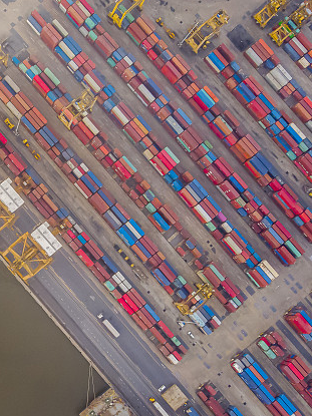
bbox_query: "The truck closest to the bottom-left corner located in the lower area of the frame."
[99,314,121,336]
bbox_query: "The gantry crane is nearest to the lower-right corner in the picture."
[166,278,211,315]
